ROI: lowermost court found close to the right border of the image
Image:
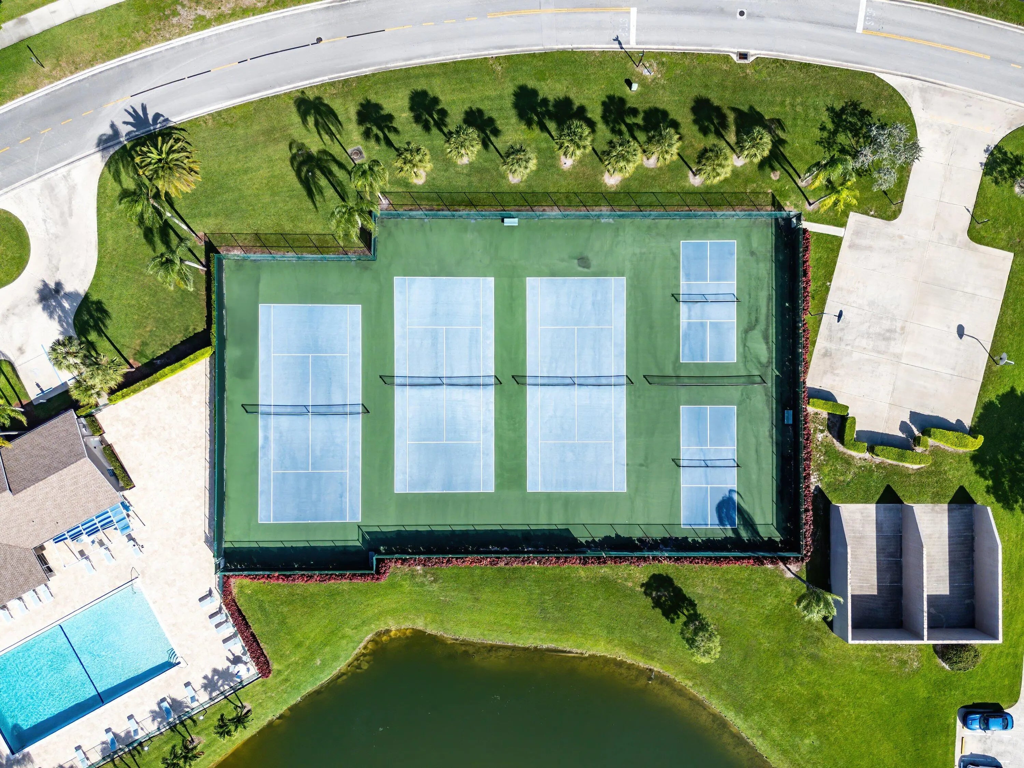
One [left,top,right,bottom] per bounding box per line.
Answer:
[831,504,1001,643]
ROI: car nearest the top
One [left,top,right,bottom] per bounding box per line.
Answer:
[964,710,1014,733]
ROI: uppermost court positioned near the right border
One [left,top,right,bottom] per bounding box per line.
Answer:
[811,213,1013,451]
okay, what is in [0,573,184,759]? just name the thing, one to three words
swimming pool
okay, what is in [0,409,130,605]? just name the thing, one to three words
building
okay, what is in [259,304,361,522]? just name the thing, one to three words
tennis court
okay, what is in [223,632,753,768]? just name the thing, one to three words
pond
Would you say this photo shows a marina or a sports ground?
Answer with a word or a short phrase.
sports ground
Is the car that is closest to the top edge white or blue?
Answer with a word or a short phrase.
blue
